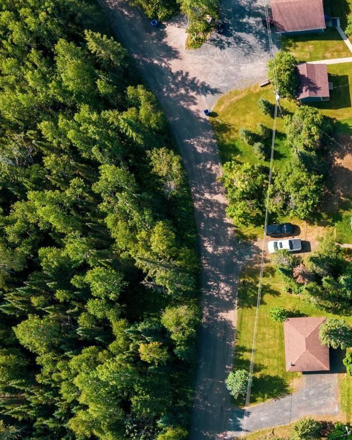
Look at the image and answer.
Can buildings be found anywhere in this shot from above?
Yes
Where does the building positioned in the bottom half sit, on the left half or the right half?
right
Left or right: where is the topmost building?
right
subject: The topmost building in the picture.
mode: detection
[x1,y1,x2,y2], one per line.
[272,0,326,38]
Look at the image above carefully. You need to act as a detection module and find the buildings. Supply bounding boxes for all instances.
[297,61,334,102]
[272,0,326,38]
[283,316,329,371]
